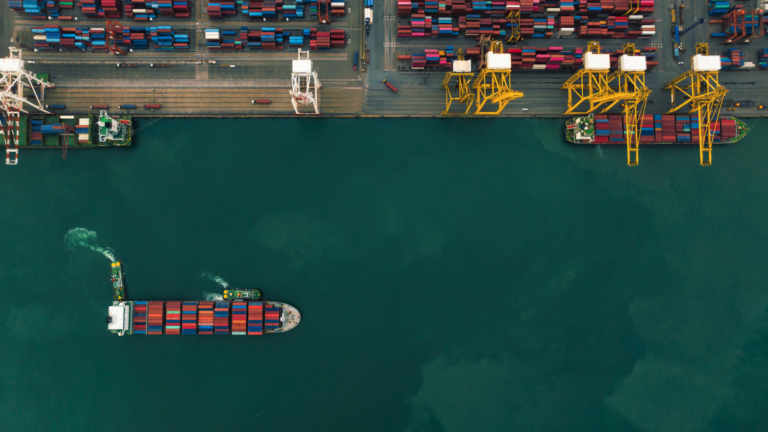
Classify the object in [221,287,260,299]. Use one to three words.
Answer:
boat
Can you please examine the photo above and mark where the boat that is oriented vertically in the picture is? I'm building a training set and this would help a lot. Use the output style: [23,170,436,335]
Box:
[110,260,125,299]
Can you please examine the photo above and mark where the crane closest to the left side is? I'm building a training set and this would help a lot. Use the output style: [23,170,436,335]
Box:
[0,40,58,166]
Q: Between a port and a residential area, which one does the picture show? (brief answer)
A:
port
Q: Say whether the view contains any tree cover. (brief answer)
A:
No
